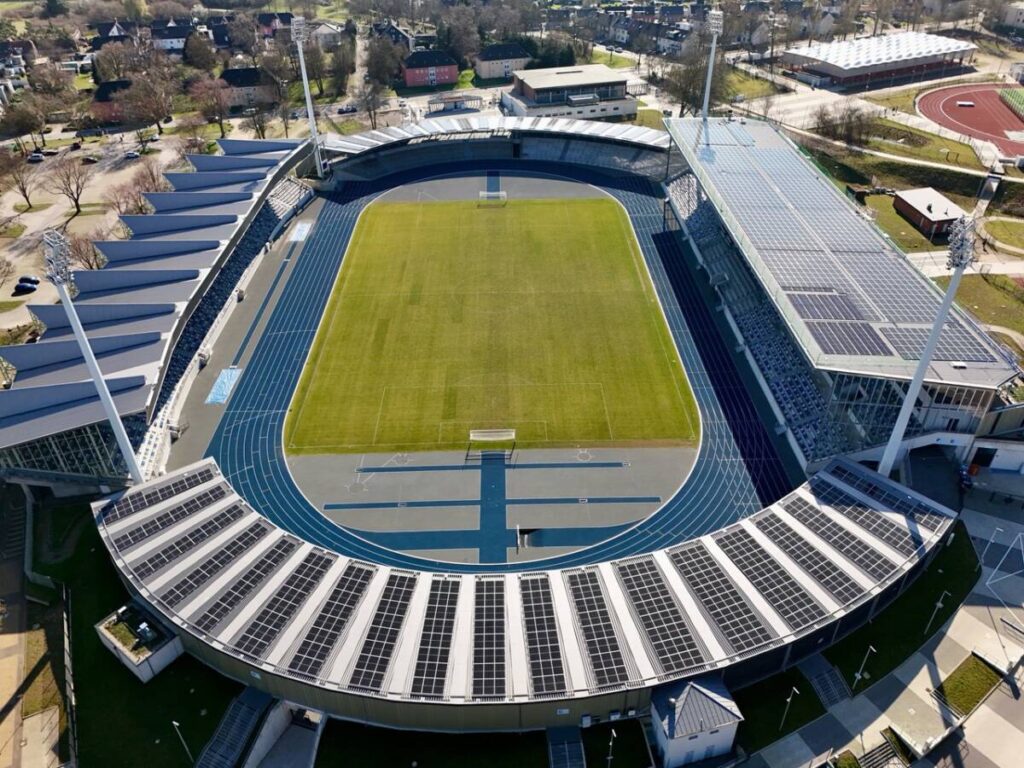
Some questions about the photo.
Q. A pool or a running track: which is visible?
running track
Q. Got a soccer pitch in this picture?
Yes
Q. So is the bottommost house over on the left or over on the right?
right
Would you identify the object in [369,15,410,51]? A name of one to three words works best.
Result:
house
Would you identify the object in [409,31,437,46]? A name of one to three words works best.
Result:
shed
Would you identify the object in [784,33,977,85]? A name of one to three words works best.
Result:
building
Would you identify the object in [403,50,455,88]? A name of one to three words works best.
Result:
house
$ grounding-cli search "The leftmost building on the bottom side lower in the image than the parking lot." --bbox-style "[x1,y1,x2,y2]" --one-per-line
[94,602,186,684]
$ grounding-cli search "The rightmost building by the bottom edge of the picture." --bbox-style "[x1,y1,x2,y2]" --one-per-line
[648,663,746,765]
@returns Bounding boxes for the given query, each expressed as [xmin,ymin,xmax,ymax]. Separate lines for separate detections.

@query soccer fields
[286,198,699,456]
